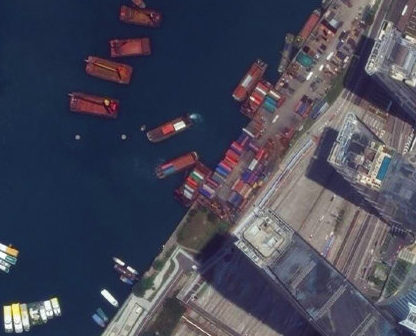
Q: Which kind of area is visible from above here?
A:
port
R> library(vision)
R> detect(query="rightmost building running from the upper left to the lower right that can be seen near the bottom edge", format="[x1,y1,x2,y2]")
[238,212,400,336]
